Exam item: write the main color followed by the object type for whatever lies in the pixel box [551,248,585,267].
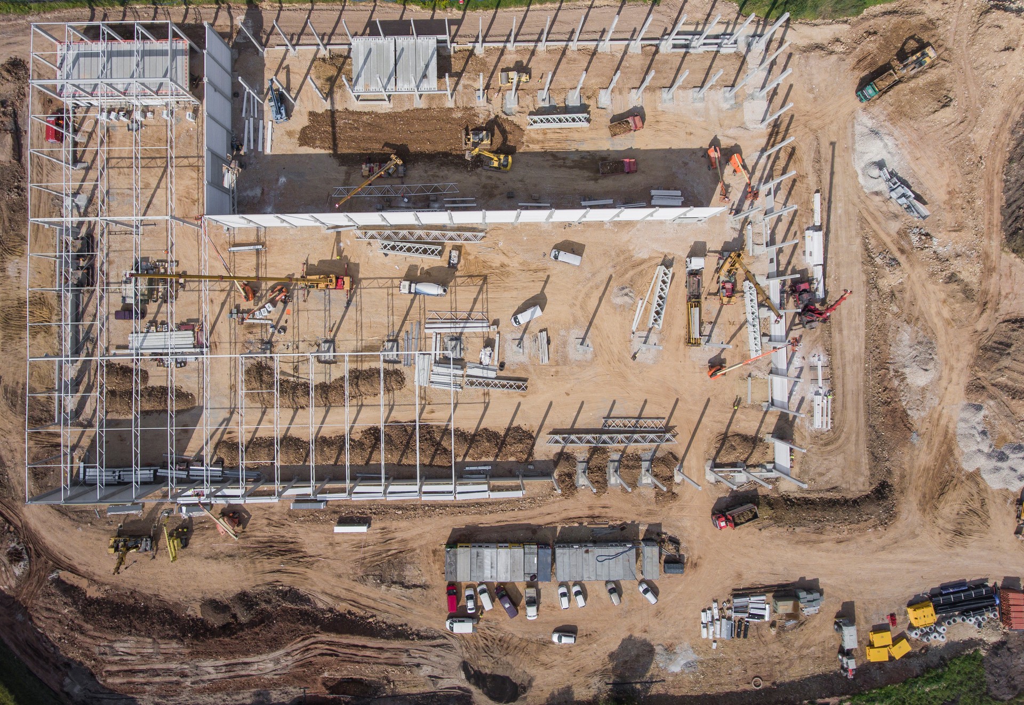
white vehicle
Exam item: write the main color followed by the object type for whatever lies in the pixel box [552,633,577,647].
white car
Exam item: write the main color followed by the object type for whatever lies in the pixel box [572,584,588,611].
white car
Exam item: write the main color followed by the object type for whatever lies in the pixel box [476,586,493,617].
white vehicle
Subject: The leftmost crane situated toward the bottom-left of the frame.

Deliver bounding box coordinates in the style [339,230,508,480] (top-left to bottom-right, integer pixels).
[103,528,152,577]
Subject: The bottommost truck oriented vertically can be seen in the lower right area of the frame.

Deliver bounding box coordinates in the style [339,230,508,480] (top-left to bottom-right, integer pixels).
[836,622,862,681]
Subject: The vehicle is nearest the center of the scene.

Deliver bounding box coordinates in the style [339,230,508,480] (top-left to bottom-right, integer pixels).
[511,304,544,327]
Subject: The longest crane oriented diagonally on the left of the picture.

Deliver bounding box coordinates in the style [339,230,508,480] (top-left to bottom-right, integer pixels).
[333,150,404,209]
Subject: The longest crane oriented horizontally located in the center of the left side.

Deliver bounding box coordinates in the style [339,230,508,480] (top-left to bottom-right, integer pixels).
[123,264,353,303]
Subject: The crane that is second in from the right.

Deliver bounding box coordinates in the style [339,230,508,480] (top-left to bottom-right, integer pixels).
[713,250,783,321]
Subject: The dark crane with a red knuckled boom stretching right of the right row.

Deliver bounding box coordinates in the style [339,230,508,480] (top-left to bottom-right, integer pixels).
[795,274,855,325]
